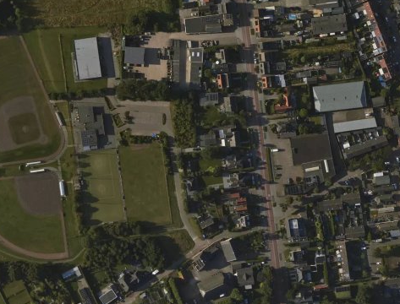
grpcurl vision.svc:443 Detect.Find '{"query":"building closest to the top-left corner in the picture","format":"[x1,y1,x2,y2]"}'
[74,37,101,80]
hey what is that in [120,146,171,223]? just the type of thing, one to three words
sports field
